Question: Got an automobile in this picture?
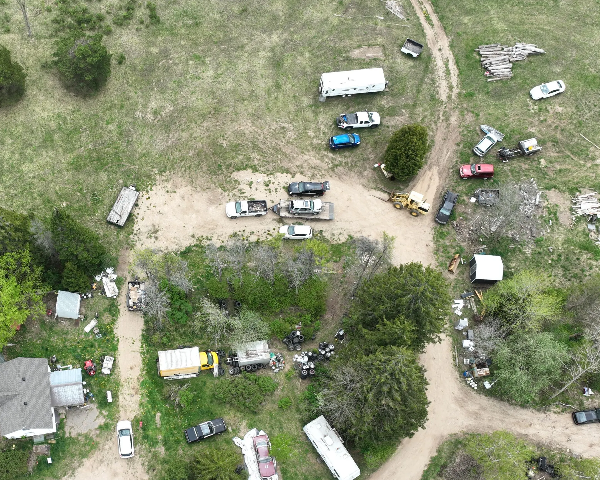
Yes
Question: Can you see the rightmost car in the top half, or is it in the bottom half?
bottom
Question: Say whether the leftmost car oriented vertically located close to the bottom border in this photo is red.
No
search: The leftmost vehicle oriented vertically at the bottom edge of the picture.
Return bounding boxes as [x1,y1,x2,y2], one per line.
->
[115,421,135,459]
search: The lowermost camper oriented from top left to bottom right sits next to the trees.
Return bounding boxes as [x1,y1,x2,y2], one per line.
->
[300,417,359,480]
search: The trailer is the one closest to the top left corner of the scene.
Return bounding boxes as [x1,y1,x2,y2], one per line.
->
[106,184,140,228]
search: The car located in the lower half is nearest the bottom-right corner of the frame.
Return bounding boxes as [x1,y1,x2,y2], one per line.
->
[569,406,600,426]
